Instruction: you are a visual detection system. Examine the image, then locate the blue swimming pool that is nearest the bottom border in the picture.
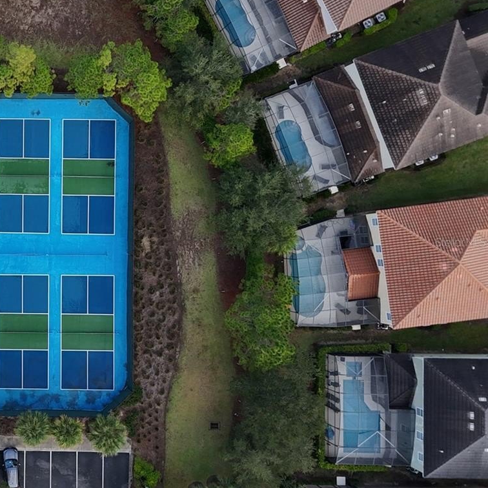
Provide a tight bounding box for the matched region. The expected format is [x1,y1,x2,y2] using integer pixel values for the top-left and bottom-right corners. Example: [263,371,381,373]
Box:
[342,378,382,455]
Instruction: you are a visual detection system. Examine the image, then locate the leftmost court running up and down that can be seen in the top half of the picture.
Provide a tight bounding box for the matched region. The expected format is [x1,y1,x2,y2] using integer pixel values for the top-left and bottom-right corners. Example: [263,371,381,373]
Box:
[0,118,50,234]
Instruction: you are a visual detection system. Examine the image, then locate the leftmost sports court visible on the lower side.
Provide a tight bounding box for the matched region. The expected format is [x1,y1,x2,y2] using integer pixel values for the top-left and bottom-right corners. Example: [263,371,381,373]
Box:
[0,274,49,389]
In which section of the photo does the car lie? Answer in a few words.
bottom left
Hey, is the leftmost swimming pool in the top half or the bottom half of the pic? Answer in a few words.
top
